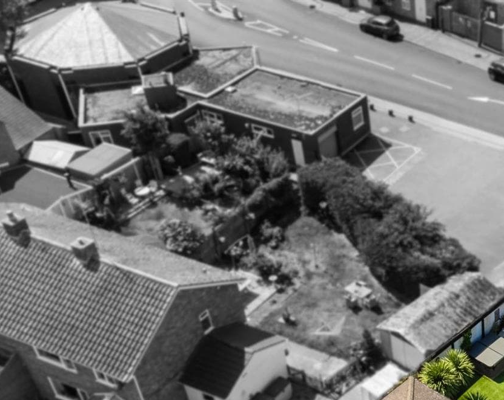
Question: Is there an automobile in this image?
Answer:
Yes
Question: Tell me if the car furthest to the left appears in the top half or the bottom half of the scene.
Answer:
top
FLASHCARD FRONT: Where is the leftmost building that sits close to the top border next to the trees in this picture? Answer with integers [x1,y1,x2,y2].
[7,0,188,136]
